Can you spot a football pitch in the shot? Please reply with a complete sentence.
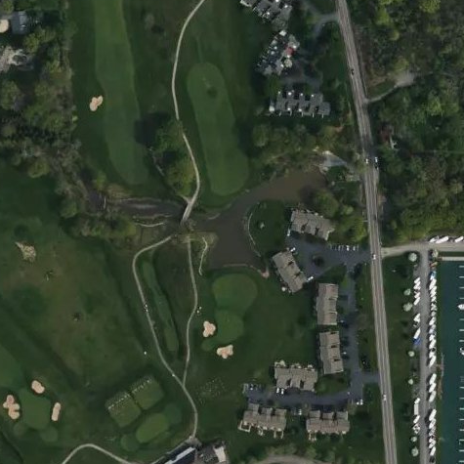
No, no football pitch is visible in the view.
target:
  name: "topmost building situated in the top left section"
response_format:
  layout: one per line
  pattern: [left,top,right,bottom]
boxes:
[9,9,29,33]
